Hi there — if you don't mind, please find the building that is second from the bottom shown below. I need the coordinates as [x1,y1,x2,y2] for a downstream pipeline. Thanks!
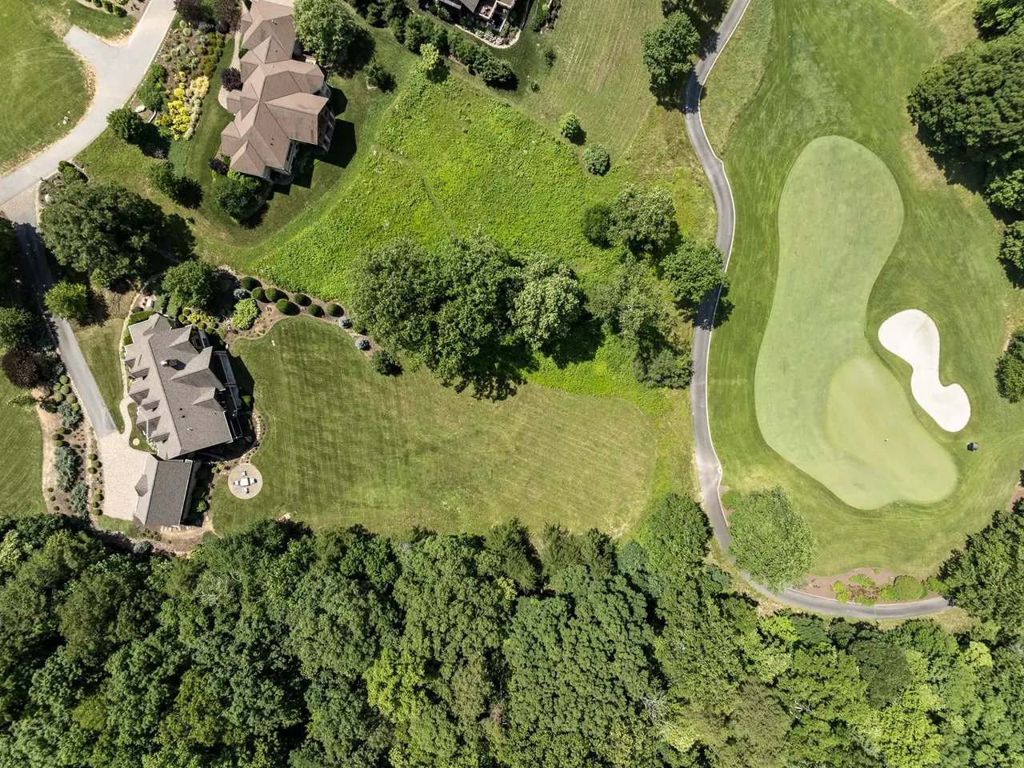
[124,314,245,459]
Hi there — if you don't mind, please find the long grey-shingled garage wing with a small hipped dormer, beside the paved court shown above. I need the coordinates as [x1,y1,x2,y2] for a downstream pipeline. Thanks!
[133,454,197,528]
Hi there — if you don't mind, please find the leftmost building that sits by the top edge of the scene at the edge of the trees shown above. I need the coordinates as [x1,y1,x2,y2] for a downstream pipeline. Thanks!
[221,0,334,187]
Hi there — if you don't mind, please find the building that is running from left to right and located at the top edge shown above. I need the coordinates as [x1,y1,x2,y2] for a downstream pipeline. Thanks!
[439,0,516,32]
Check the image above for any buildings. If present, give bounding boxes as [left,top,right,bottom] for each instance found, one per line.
[124,314,245,459]
[439,0,516,32]
[221,0,334,187]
